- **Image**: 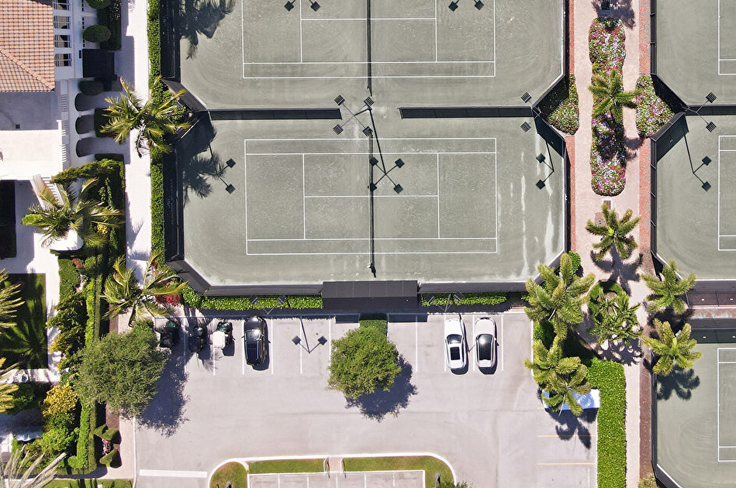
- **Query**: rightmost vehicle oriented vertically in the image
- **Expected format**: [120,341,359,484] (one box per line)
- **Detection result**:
[473,316,497,368]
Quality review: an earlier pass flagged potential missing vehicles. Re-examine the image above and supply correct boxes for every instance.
[157,320,180,352]
[190,322,210,354]
[213,320,233,352]
[242,314,270,366]
[443,316,468,368]
[473,316,497,368]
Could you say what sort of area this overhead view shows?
sports ground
